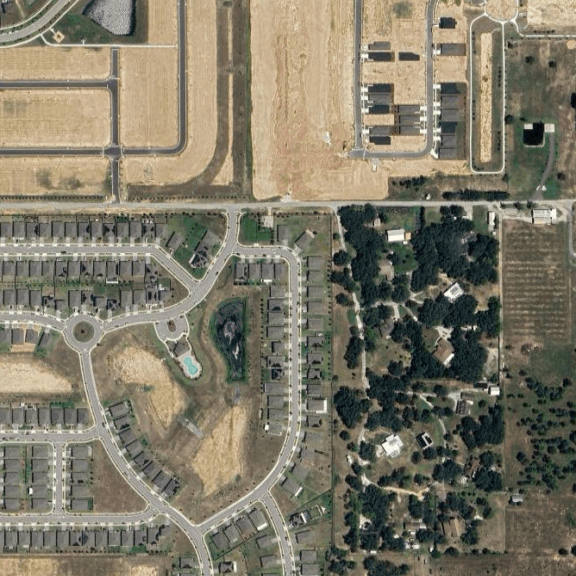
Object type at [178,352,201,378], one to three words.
swimming pool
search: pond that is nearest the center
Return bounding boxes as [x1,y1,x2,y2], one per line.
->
[216,300,244,379]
